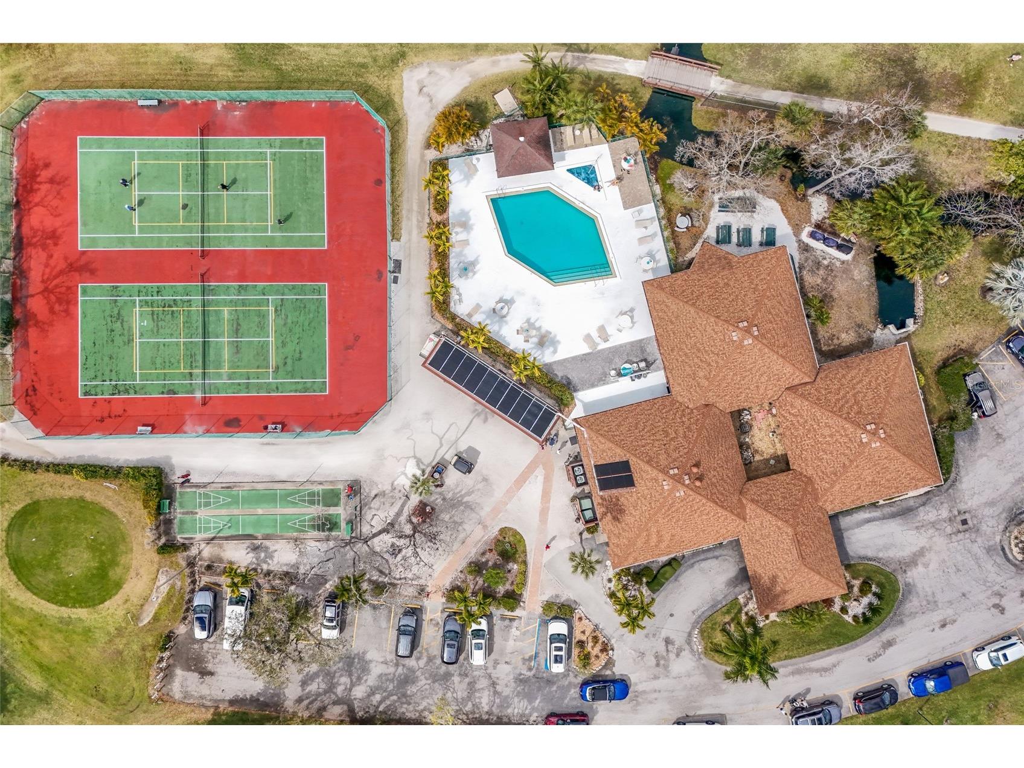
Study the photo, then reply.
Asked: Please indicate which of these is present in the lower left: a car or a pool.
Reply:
car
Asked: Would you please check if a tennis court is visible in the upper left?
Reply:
Yes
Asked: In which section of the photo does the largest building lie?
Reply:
right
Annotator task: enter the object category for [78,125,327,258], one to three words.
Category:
tennis court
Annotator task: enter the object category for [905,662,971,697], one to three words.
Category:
truck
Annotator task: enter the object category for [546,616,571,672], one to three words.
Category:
car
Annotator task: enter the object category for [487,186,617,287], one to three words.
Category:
swimming pool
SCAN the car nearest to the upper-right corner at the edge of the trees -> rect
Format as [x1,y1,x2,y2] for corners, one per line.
[1001,329,1024,374]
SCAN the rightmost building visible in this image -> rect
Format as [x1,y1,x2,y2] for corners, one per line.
[558,241,944,616]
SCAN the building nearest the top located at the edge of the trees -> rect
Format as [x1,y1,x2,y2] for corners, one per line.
[490,117,554,180]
